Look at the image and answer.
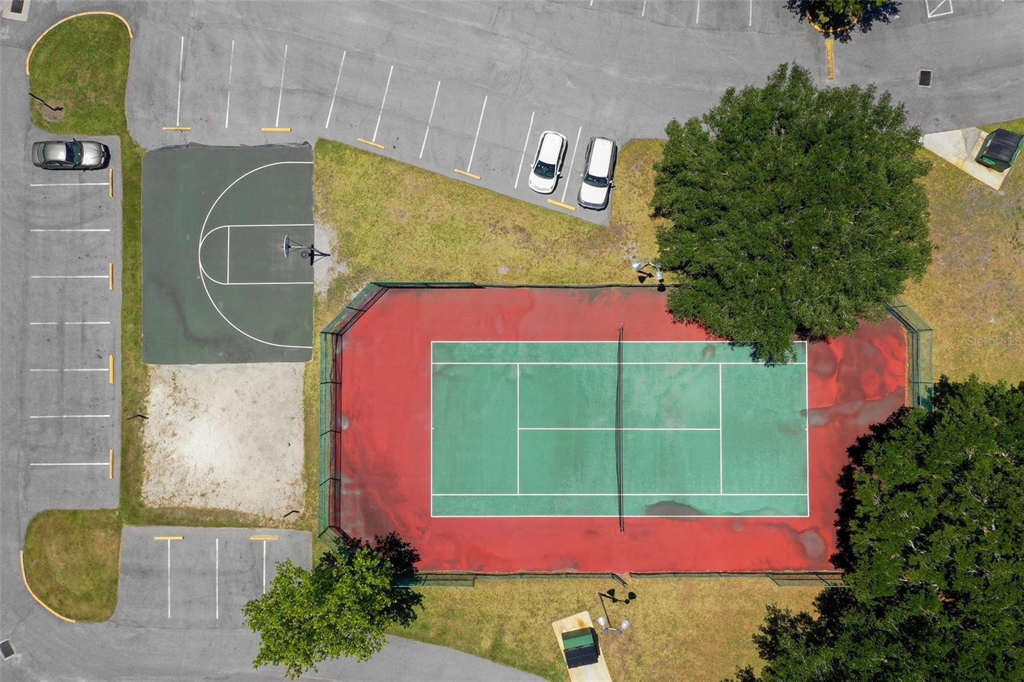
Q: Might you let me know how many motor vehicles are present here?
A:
three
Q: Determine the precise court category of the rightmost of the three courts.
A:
tennis court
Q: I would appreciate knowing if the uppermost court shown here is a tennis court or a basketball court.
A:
basketball court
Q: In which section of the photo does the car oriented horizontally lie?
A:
top left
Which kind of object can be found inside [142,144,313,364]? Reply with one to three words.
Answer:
basketball court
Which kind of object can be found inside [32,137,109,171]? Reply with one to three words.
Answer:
car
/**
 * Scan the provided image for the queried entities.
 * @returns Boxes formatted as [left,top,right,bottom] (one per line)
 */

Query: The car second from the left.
[530,129,567,196]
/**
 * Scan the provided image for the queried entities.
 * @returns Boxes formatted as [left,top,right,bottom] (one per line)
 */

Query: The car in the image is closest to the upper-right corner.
[579,135,618,212]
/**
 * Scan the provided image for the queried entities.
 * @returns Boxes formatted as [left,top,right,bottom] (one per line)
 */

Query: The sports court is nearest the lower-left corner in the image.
[141,362,306,518]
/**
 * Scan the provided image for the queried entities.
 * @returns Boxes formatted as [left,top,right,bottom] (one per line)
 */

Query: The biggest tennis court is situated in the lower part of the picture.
[332,287,906,573]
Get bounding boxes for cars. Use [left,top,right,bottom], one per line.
[579,135,618,212]
[32,137,109,171]
[530,129,567,196]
